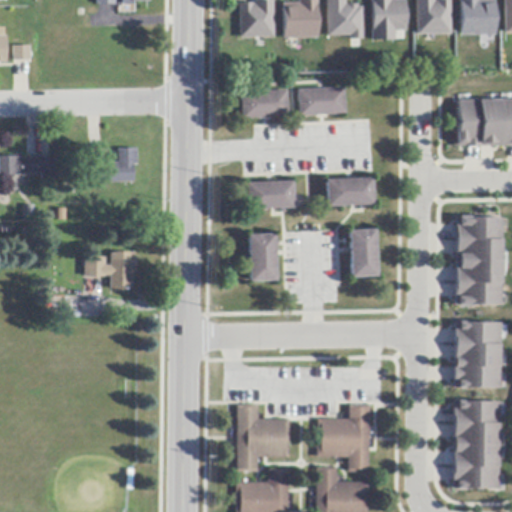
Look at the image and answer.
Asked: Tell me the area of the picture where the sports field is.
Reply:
bottom left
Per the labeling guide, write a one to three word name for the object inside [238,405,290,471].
building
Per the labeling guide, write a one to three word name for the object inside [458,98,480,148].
house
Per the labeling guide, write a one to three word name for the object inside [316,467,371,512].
building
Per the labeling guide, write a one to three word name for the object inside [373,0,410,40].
house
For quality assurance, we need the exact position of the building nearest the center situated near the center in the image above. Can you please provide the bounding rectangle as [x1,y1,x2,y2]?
[250,234,279,282]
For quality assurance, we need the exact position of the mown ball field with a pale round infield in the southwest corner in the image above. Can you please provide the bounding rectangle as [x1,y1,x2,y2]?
[54,454,130,512]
